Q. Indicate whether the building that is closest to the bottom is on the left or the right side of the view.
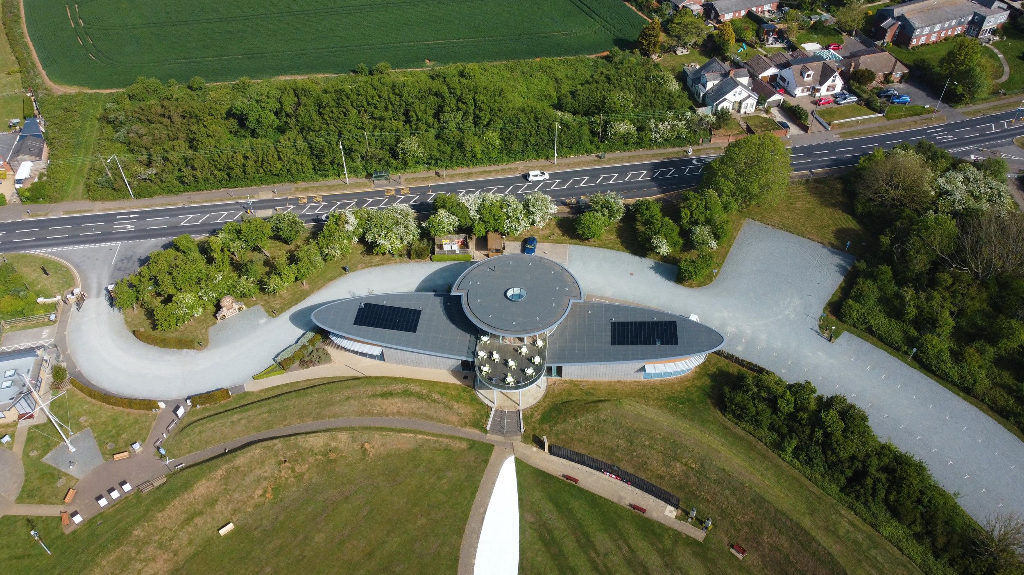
left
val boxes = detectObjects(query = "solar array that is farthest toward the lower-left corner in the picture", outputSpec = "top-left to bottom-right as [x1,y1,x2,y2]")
[354,303,422,334]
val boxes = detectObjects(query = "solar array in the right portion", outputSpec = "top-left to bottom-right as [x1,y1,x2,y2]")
[611,321,678,346]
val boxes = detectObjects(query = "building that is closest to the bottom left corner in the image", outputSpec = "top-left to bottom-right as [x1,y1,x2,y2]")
[0,348,47,424]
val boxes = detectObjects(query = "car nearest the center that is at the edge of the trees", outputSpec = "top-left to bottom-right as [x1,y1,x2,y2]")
[524,239,537,256]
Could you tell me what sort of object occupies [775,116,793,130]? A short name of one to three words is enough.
car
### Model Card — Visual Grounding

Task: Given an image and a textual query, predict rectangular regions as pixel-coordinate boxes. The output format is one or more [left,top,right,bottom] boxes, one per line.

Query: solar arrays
[611,321,678,346]
[354,303,422,334]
